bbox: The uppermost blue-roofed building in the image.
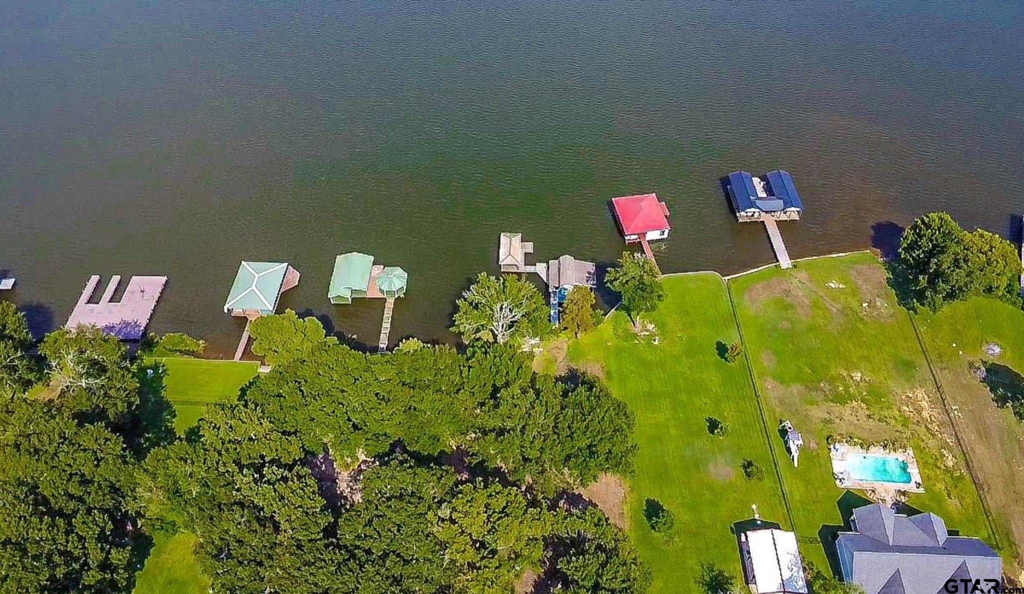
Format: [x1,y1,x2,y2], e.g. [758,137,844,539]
[723,170,803,226]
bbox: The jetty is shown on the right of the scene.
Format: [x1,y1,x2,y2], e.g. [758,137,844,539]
[763,218,791,268]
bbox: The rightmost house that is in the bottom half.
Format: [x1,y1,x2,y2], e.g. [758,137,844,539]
[835,503,1008,594]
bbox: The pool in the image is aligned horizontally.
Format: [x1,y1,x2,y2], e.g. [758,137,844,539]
[830,444,924,492]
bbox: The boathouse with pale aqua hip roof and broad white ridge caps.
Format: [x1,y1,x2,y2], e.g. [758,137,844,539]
[225,260,288,321]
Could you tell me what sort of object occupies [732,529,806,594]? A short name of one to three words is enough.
shed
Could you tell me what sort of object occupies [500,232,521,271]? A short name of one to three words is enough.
building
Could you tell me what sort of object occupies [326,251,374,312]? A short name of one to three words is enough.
building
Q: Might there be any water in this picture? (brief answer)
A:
Yes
